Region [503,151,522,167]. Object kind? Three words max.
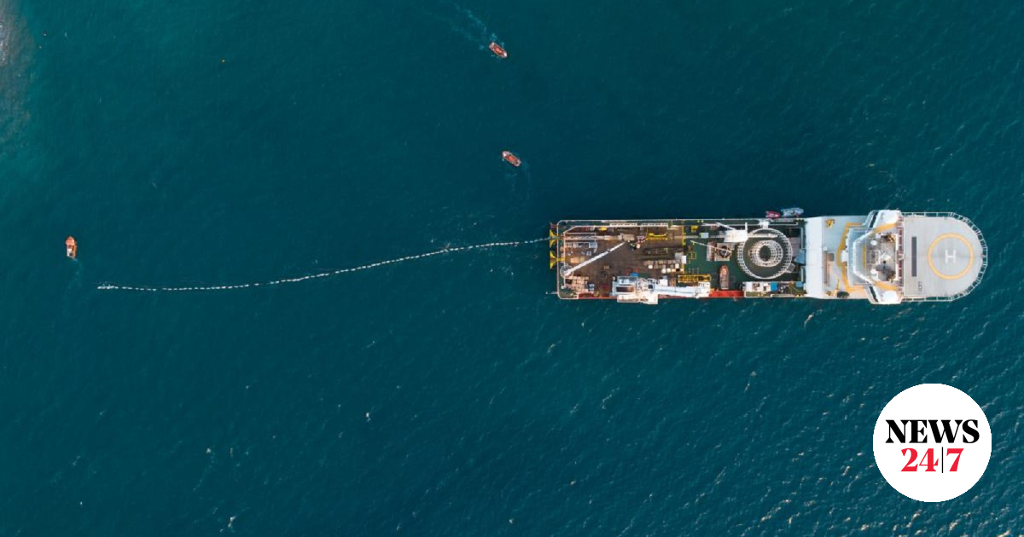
boat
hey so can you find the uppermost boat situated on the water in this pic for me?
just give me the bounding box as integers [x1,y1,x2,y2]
[488,40,507,57]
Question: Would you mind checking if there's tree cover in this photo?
No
